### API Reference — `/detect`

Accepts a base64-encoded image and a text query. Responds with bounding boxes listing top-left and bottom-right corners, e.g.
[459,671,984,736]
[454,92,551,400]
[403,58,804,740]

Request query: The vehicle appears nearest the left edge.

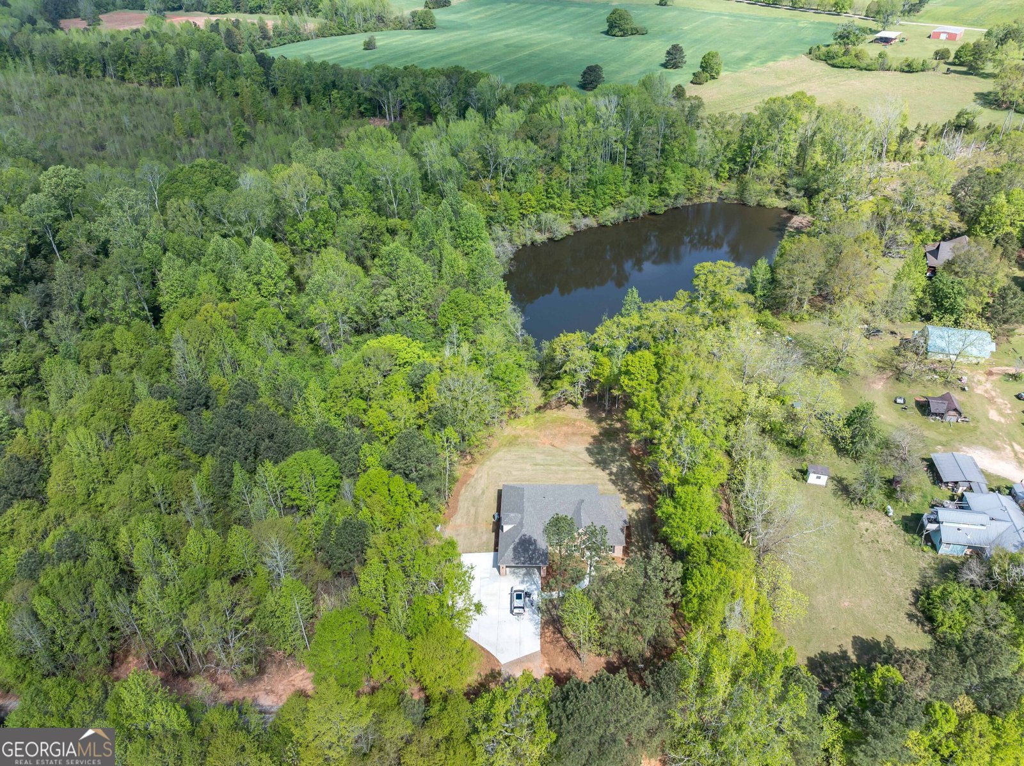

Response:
[511,583,531,613]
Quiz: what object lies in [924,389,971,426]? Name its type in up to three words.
shed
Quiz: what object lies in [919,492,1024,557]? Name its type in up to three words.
house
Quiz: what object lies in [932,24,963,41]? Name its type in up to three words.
barn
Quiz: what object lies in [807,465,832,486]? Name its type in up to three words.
shed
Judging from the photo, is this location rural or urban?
rural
